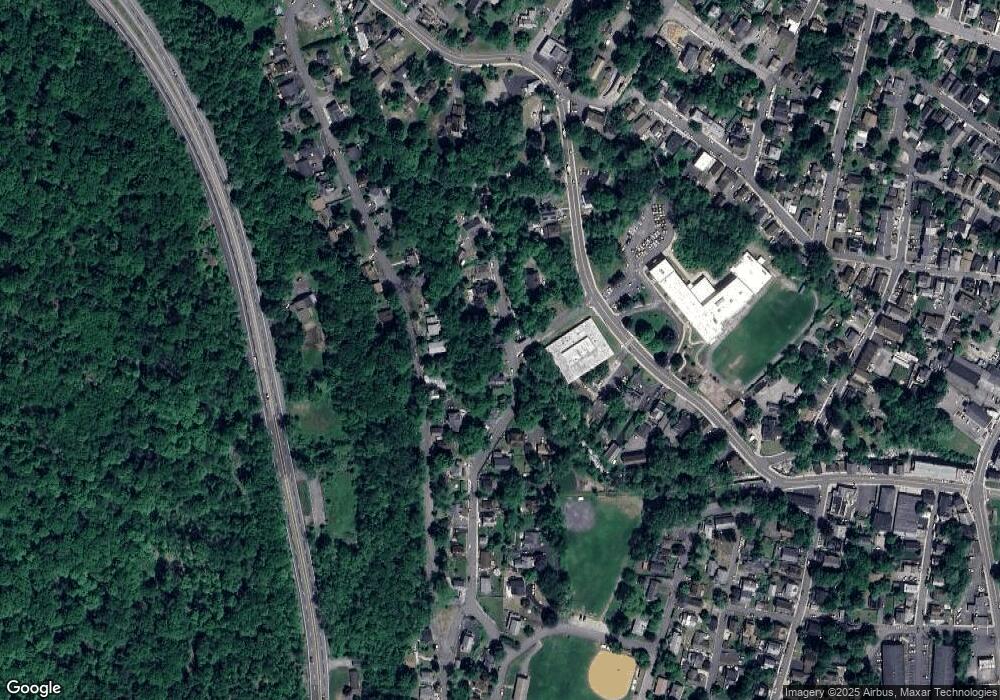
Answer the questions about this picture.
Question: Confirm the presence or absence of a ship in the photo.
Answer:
No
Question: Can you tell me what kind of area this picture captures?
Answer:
residential area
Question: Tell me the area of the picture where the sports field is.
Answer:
right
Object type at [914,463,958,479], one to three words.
building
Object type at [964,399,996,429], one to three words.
building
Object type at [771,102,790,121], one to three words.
house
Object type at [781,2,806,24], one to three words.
house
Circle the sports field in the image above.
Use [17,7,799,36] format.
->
[712,275,818,389]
